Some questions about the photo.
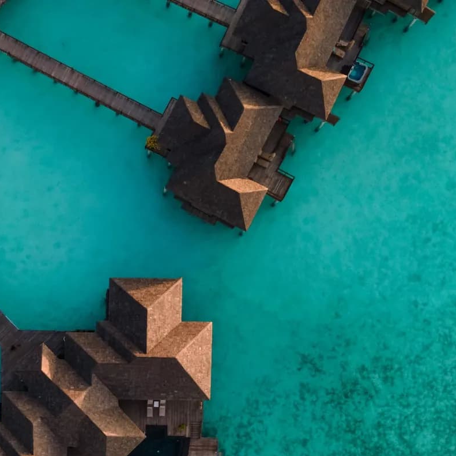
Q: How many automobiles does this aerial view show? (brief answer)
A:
0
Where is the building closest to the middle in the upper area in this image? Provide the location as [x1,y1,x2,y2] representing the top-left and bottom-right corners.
[143,77,296,235]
